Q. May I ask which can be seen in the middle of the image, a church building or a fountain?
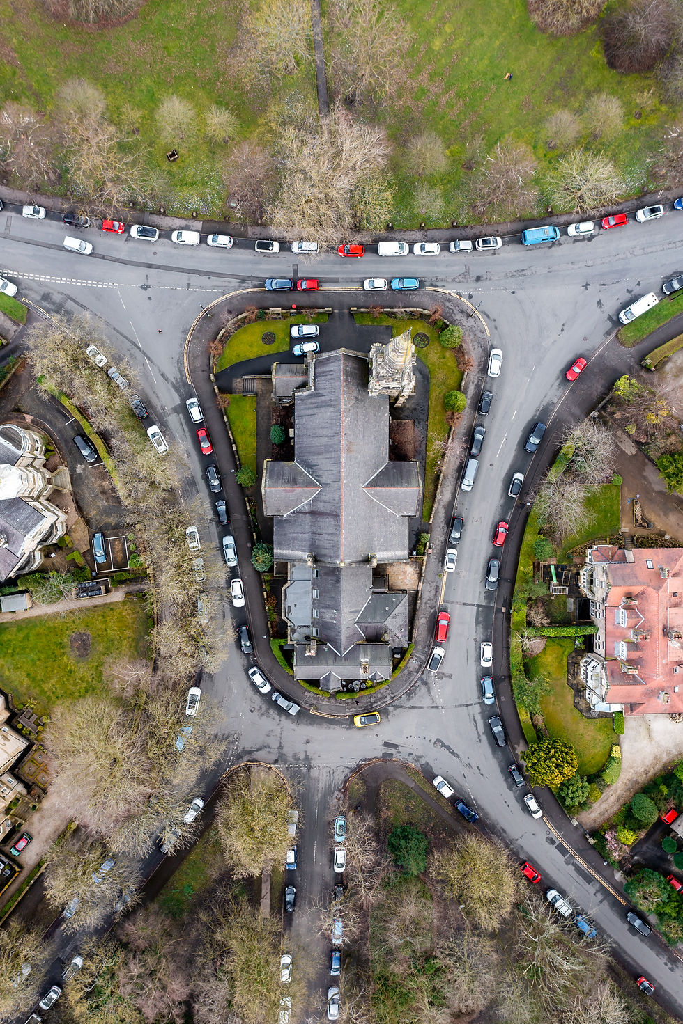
church building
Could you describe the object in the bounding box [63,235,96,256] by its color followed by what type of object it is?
white car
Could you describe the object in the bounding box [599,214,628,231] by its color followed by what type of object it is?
red car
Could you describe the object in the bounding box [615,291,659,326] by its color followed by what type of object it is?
white vehicle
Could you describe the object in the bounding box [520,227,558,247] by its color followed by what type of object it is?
blue vehicle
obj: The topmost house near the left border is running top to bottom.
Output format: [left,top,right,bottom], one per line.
[0,419,70,587]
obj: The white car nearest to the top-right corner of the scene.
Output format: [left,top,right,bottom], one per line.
[633,205,664,224]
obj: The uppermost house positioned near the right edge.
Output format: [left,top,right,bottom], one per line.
[574,544,683,715]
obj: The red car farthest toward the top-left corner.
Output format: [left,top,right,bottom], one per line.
[102,221,126,235]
